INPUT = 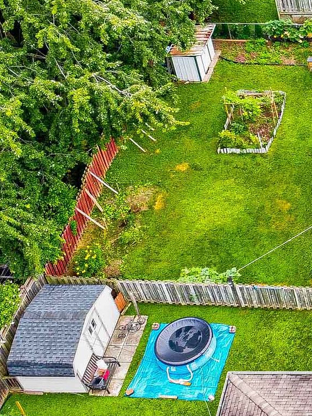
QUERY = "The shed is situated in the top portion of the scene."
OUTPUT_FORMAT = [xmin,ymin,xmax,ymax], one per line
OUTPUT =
[165,21,220,83]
